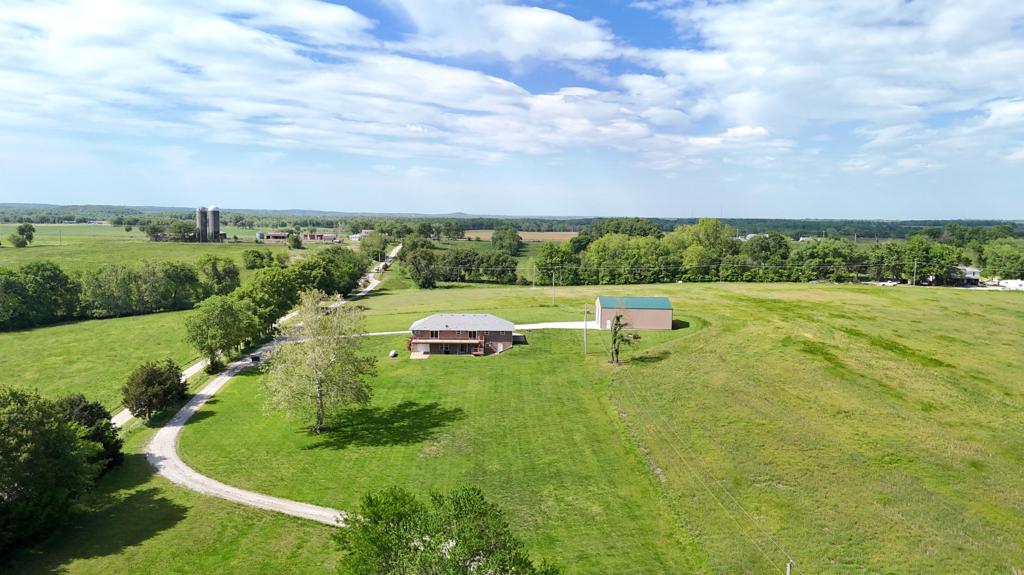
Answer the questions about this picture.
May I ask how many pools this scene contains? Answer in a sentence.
I count no pools.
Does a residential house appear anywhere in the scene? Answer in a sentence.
Yes, there's a residential house down there.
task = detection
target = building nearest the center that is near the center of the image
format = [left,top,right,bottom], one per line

[408,312,516,356]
